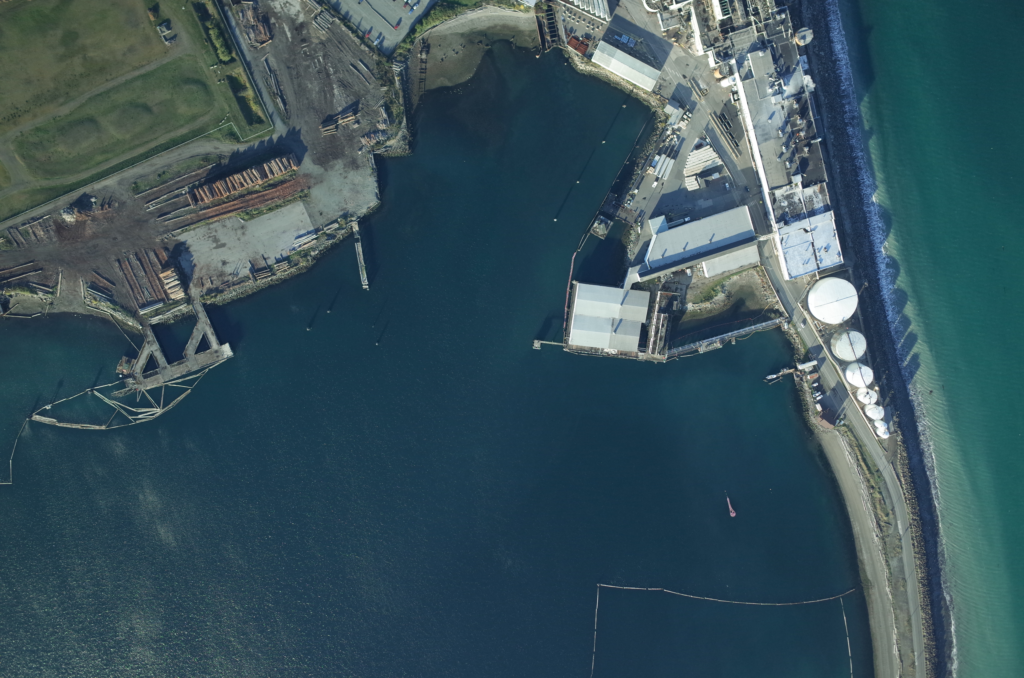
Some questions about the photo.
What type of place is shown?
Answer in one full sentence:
What you see here is a port.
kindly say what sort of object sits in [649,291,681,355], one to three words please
building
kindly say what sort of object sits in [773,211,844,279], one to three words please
building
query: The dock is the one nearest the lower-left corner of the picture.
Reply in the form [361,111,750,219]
[124,295,234,389]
